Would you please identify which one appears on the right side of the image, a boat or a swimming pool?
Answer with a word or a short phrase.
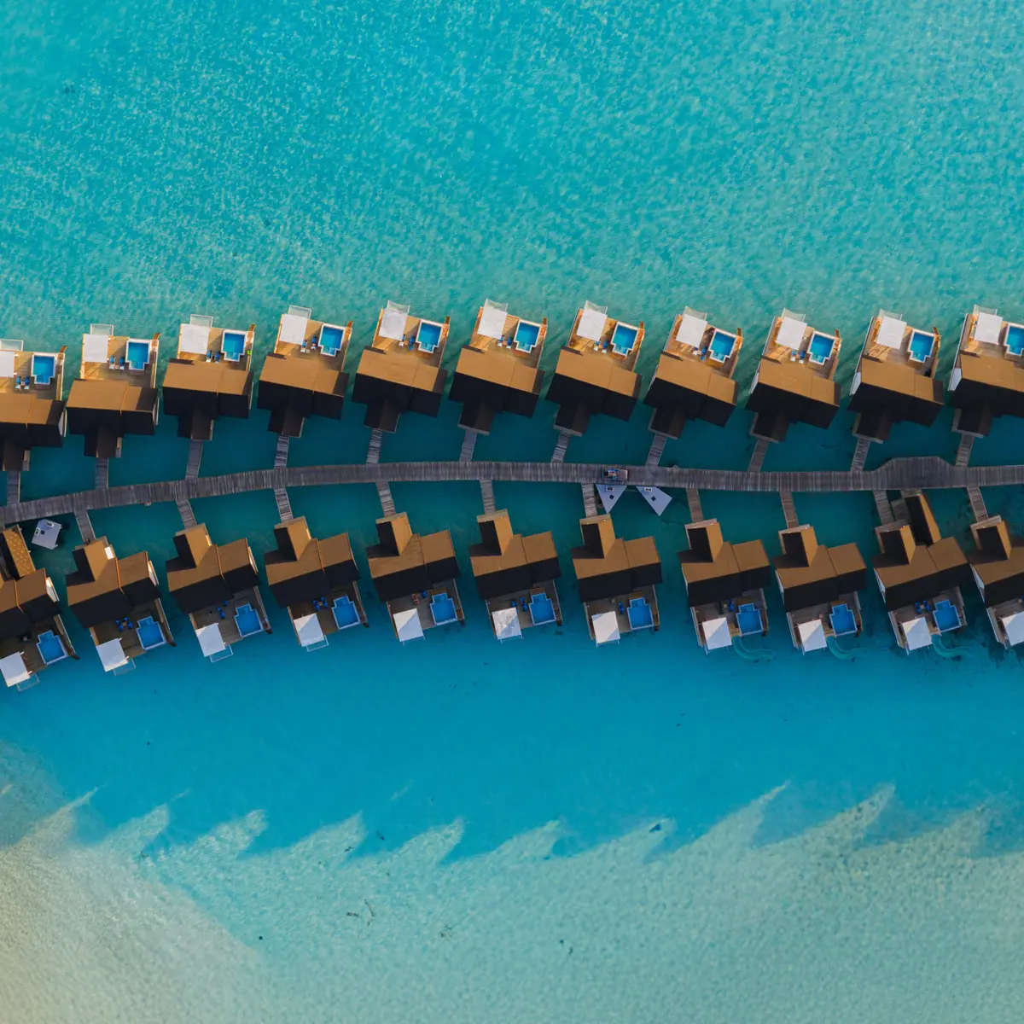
swimming pool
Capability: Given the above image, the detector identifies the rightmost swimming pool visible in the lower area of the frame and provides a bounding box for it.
[931,602,960,634]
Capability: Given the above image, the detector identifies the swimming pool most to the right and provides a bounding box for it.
[1003,324,1024,357]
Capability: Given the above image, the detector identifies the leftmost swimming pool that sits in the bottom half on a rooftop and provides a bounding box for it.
[39,634,69,667]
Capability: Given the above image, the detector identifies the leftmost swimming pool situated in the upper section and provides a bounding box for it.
[33,354,57,384]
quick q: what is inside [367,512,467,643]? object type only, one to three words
house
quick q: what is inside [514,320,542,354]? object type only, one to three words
swimming pool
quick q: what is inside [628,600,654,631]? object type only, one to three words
swimming pool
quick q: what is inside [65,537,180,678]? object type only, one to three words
house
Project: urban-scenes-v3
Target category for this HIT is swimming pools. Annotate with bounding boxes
[830,606,857,638]
[125,340,150,371]
[416,321,444,354]
[431,595,458,627]
[332,599,360,632]
[611,322,639,356]
[39,634,69,667]
[736,605,763,637]
[1003,324,1024,357]
[931,602,960,634]
[138,621,167,653]
[514,320,542,354]
[33,354,57,384]
[907,330,936,363]
[221,332,247,363]
[807,331,836,364]
[628,600,654,631]
[529,595,556,627]
[236,607,264,639]
[319,325,346,358]
[708,330,738,363]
